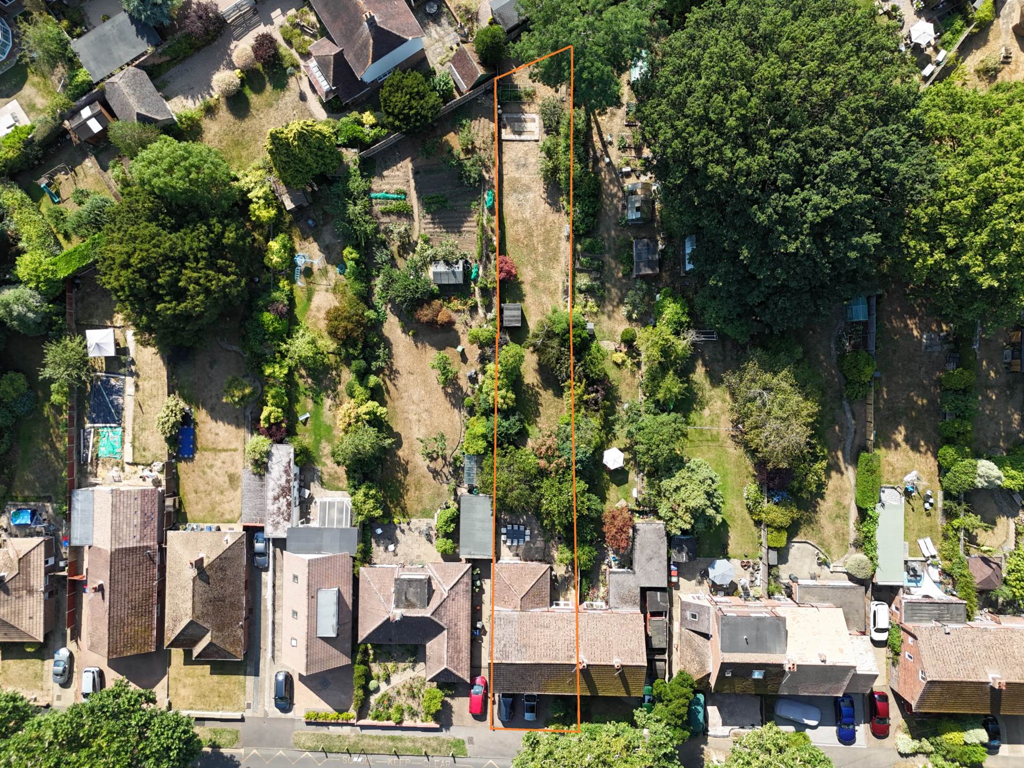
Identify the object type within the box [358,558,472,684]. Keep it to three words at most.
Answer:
house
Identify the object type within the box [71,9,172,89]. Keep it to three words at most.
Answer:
building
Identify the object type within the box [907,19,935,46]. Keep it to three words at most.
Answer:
umbrella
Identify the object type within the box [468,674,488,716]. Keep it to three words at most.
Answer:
car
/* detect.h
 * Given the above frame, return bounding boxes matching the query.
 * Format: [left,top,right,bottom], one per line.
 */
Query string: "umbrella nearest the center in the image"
[603,446,624,470]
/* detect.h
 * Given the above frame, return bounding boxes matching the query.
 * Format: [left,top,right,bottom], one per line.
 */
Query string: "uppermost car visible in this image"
[250,530,271,570]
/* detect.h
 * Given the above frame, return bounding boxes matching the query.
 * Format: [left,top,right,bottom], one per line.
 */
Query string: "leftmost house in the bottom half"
[0,535,58,642]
